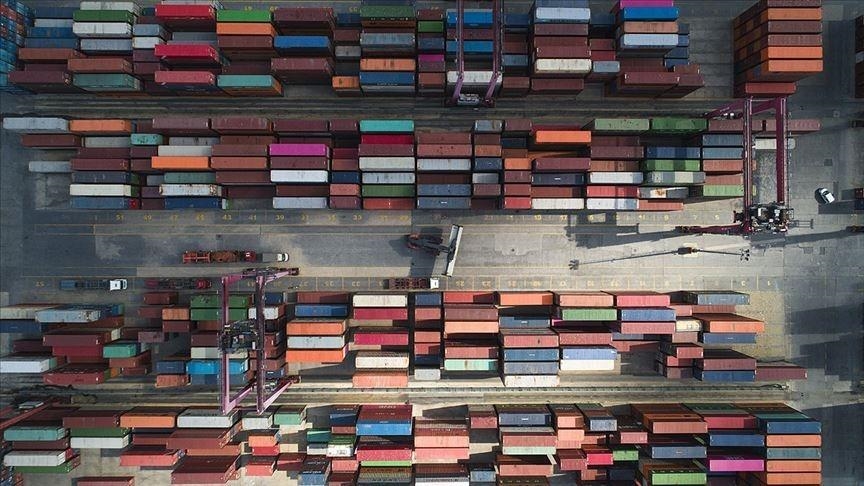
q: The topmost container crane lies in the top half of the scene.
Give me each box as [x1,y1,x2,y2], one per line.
[438,0,504,105]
